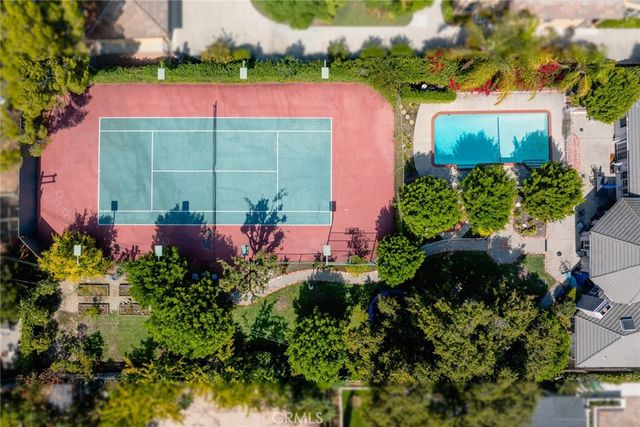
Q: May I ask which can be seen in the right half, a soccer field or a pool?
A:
pool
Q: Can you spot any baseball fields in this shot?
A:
No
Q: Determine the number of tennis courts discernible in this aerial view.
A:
1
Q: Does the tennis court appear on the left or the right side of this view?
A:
left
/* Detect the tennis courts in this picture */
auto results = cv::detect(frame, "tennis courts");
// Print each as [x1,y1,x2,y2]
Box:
[41,62,394,263]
